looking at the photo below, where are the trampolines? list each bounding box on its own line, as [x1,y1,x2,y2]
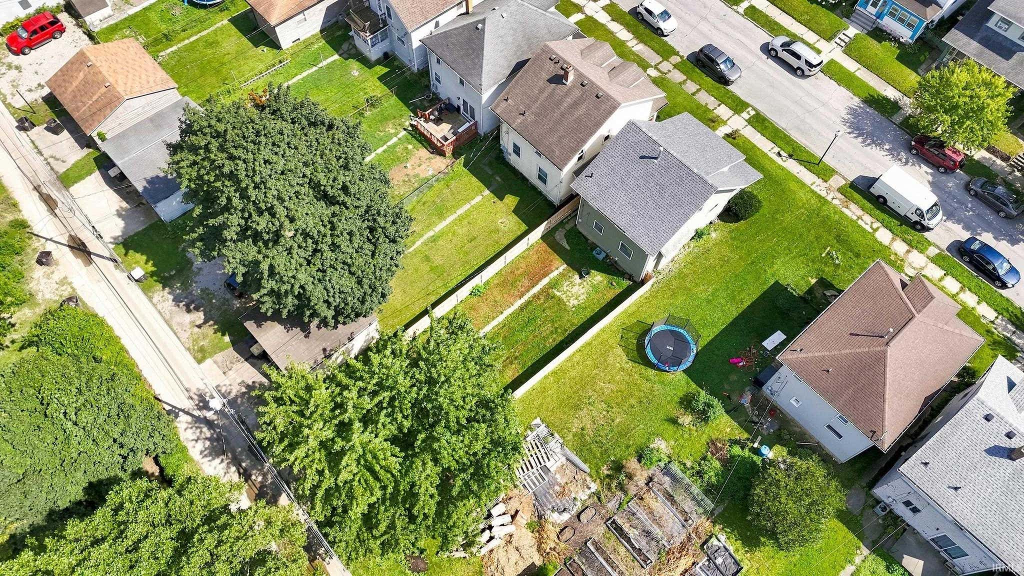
[641,312,702,377]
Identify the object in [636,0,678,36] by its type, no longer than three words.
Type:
car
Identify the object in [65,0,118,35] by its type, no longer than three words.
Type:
shed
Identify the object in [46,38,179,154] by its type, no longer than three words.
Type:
building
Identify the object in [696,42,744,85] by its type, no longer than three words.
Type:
car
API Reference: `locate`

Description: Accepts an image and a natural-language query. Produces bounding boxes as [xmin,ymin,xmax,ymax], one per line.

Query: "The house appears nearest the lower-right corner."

[878,362,1024,576]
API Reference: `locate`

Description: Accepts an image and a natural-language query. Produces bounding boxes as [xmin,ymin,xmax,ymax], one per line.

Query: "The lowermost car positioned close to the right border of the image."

[960,237,1024,290]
